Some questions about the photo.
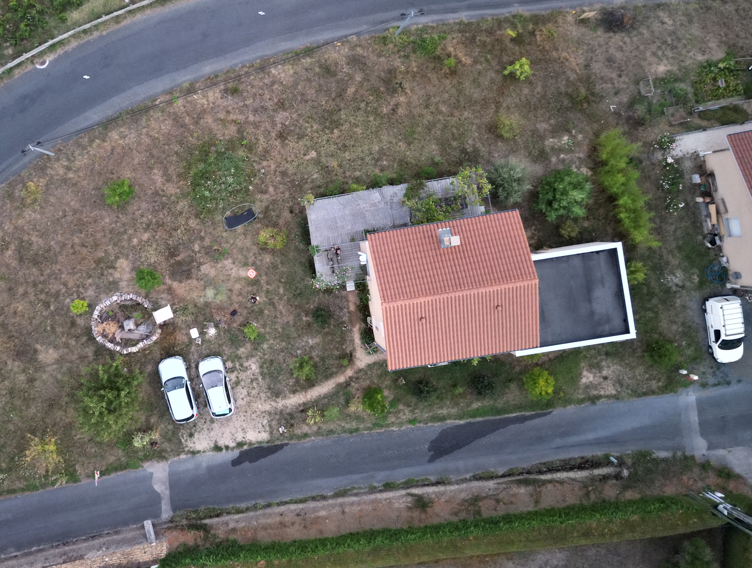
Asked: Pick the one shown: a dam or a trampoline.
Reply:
trampoline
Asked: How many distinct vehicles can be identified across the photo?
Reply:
3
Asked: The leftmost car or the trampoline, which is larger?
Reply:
the car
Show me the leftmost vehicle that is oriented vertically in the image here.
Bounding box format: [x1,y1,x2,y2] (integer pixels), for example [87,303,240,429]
[159,355,200,425]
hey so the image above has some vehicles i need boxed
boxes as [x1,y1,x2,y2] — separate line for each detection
[702,296,749,364]
[201,355,239,420]
[159,355,200,425]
